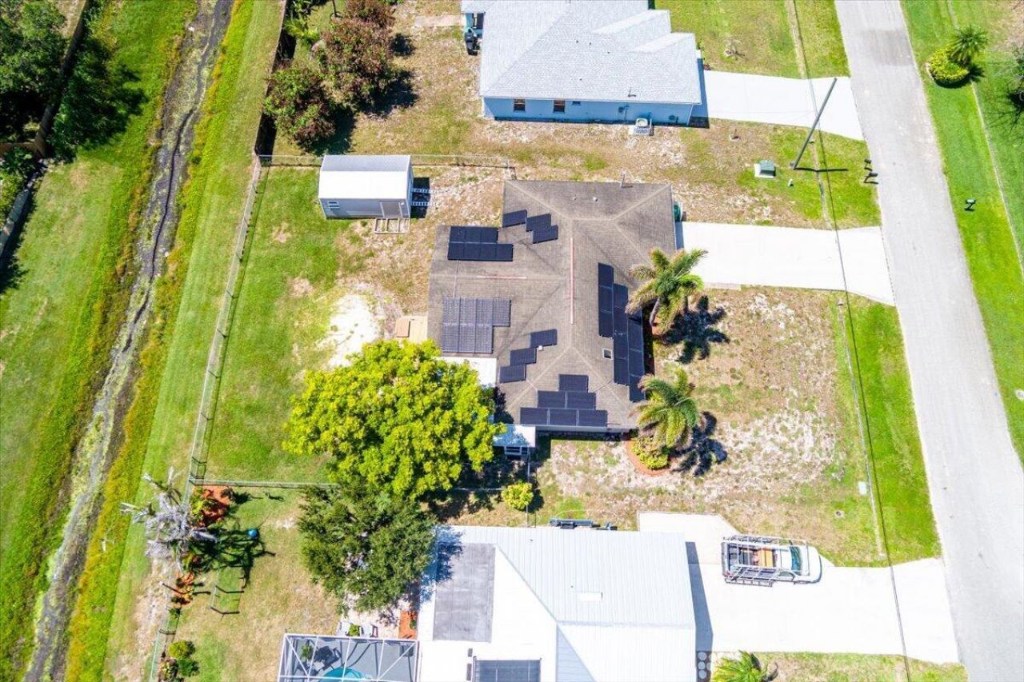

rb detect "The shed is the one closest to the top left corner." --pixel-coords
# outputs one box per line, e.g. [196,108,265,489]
[317,154,415,220]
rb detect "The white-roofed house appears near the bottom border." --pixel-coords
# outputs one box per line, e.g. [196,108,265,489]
[413,525,699,682]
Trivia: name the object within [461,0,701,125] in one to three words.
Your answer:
house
